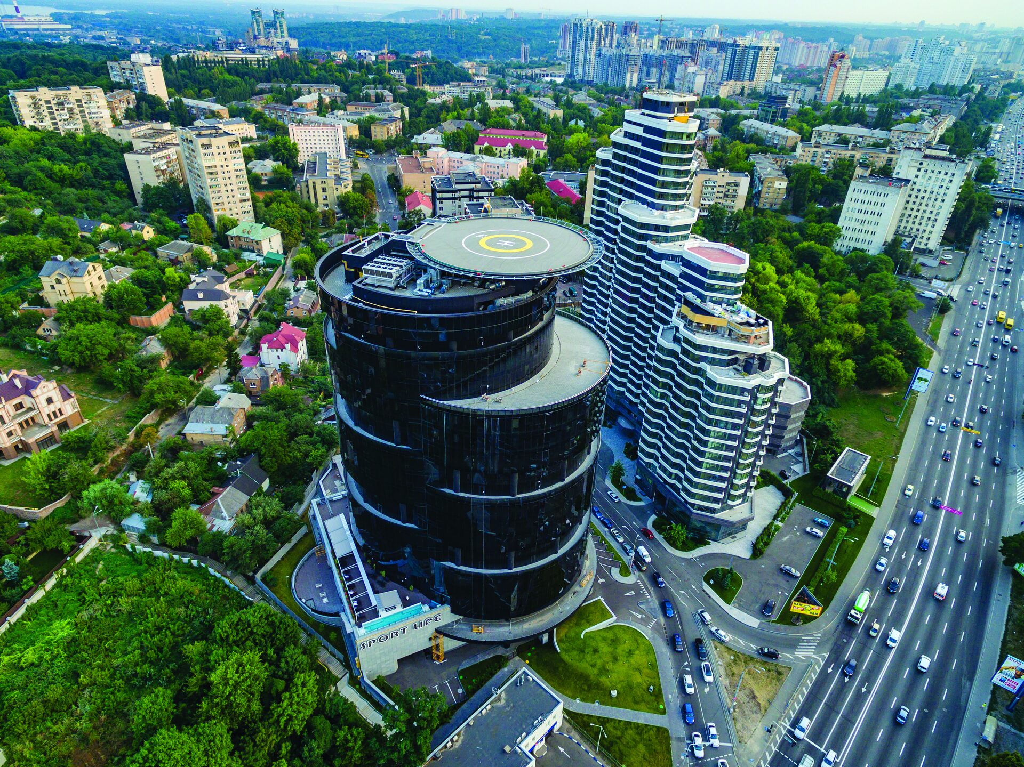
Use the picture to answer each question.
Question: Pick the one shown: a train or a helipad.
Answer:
helipad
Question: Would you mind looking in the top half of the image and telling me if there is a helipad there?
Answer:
Yes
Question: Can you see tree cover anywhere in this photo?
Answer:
Yes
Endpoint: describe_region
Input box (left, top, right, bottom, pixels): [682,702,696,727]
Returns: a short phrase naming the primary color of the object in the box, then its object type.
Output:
blue car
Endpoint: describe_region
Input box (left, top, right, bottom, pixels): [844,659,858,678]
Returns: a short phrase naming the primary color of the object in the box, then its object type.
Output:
blue car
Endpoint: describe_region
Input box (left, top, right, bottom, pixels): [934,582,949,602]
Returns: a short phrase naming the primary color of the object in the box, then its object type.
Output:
white vehicle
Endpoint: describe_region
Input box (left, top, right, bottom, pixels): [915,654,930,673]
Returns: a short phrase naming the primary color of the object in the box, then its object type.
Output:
white car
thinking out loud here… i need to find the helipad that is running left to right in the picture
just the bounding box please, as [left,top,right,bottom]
[382,214,603,306]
